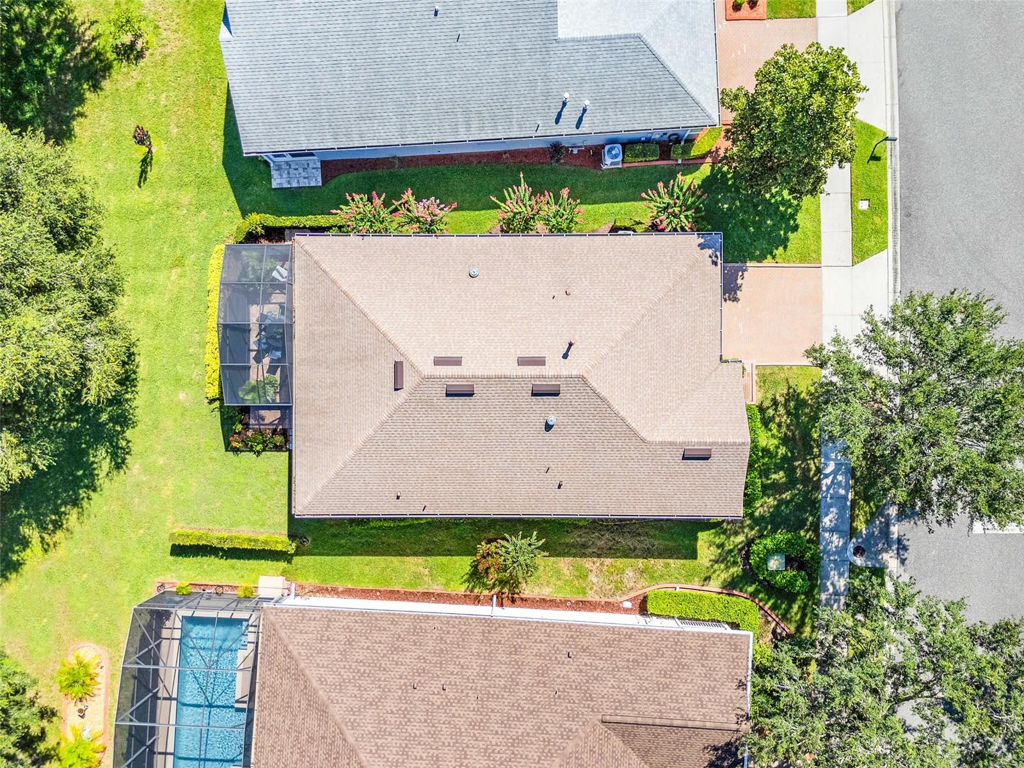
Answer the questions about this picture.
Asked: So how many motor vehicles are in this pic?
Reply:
none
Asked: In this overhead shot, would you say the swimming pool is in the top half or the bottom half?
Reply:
bottom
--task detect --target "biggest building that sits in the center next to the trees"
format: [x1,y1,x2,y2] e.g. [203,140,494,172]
[293,234,751,517]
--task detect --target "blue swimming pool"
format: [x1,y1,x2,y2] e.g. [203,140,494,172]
[175,616,248,768]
